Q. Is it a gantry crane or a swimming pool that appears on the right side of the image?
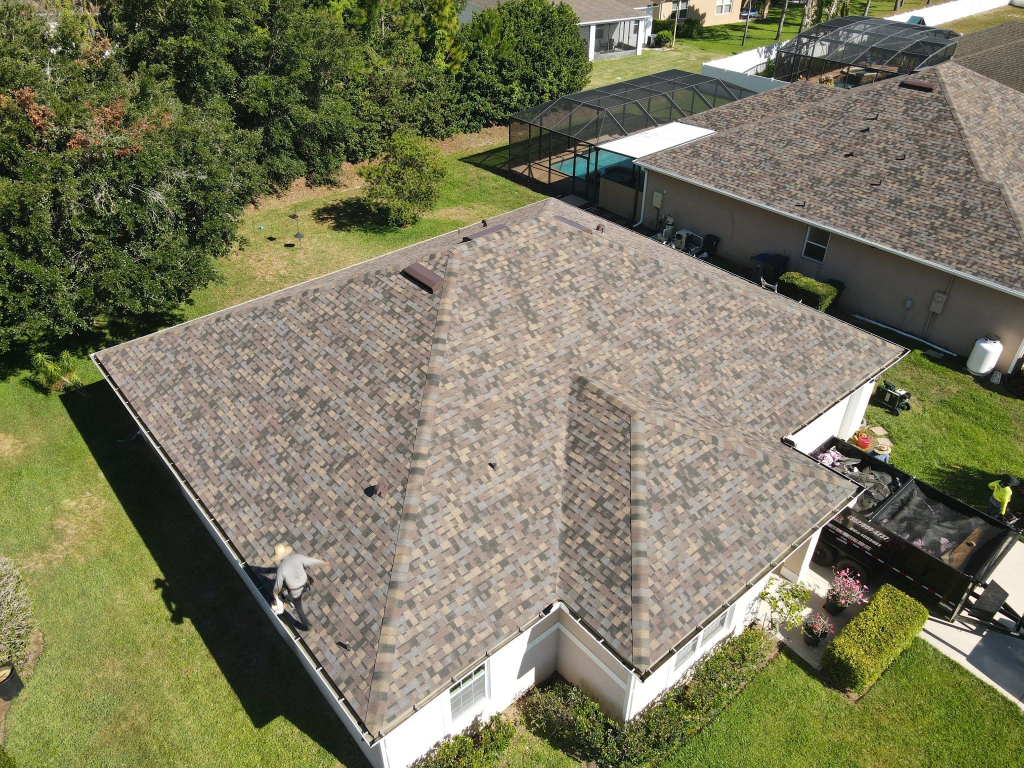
swimming pool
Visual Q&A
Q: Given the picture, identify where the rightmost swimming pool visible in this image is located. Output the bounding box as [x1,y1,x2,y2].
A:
[784,65,900,89]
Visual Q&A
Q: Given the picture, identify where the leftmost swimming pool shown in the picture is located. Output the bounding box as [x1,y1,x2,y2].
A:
[512,142,644,219]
